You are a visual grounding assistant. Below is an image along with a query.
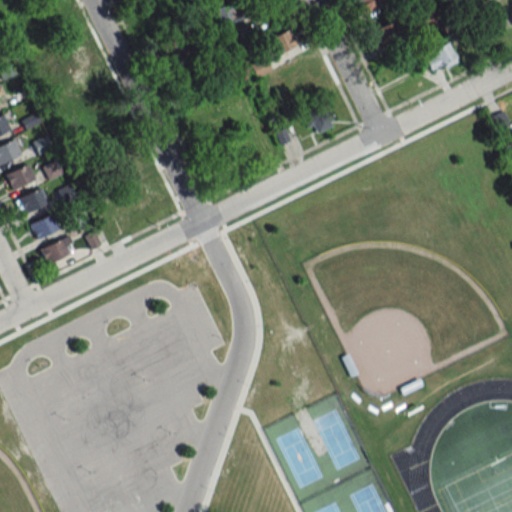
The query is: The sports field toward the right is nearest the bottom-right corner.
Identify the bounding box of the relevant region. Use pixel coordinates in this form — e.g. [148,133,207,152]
[432,402,512,512]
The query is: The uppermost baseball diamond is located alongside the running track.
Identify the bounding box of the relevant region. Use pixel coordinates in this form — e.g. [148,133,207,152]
[304,241,508,396]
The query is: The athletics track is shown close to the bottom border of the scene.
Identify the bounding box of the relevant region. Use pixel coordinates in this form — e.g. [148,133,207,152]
[391,378,512,512]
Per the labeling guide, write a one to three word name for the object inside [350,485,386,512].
tennis court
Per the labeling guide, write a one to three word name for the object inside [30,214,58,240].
house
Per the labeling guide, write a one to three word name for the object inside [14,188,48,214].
house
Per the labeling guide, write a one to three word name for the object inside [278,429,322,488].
tennis court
